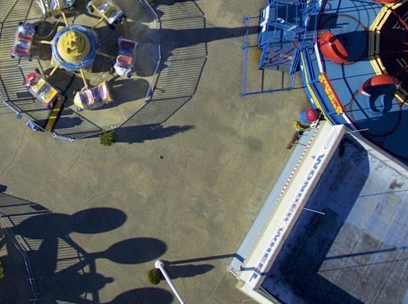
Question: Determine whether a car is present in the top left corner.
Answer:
Yes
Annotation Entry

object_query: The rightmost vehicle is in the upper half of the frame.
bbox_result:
[114,41,137,75]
